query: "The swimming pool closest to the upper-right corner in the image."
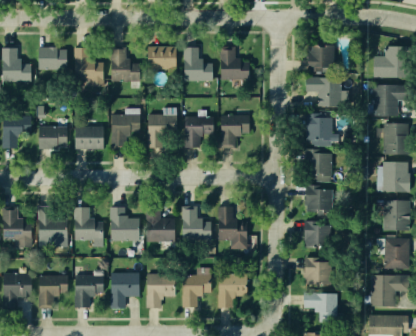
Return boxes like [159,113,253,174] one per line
[337,38,350,71]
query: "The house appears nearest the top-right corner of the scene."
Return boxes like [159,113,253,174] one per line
[374,46,409,78]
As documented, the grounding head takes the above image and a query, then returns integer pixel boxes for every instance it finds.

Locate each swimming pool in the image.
[154,72,167,86]
[335,117,348,132]
[337,38,350,71]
